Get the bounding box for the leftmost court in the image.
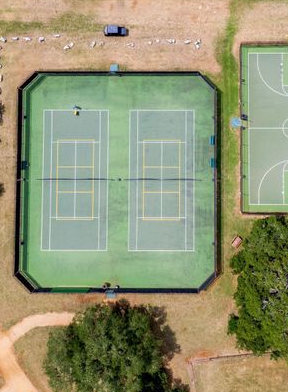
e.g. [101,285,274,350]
[41,109,109,251]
